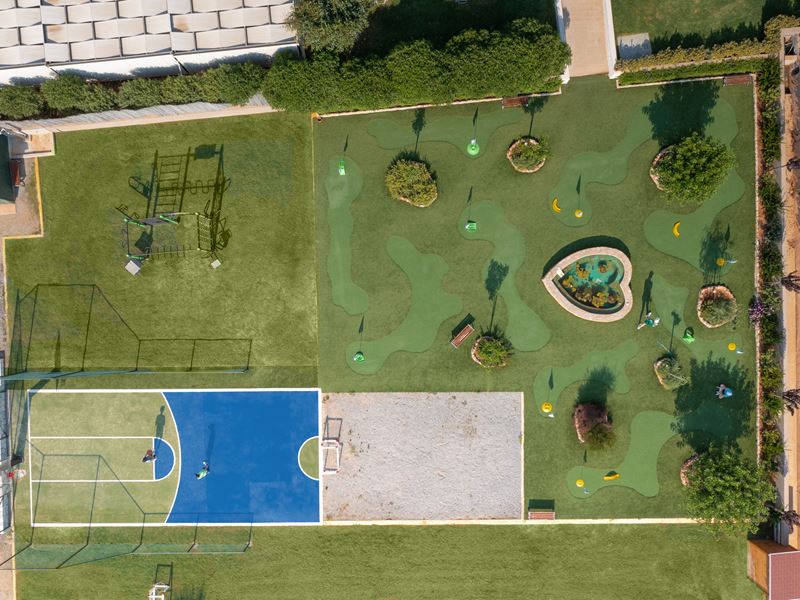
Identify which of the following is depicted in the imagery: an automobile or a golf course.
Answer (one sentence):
The one in the frame is a golf course.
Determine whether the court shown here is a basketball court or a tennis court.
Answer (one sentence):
The court is a basketball court.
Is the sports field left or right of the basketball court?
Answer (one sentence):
Compared with the basketball court, the sports field is located further to the right.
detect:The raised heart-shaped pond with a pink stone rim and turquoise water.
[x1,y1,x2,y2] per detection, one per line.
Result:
[541,247,634,322]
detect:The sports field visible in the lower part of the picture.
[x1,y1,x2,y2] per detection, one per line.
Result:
[323,391,525,520]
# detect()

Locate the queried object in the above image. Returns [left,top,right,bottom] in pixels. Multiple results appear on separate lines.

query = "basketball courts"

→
[27,388,322,526]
